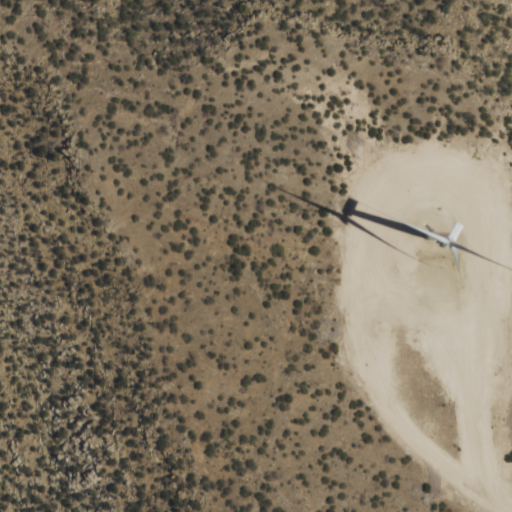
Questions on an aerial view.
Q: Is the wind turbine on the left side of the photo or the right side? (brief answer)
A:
right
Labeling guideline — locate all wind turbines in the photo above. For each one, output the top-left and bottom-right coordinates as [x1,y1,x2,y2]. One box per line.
[354,203,512,272]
